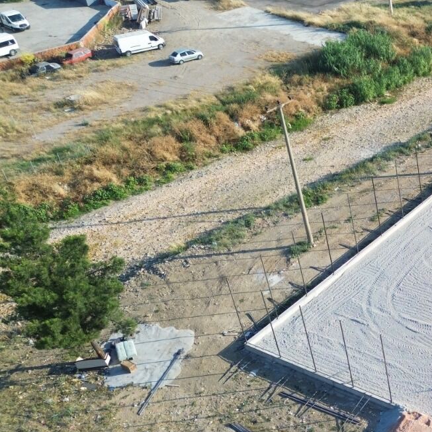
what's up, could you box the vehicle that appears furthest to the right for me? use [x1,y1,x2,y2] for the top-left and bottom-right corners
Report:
[168,48,205,64]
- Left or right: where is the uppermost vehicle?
left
